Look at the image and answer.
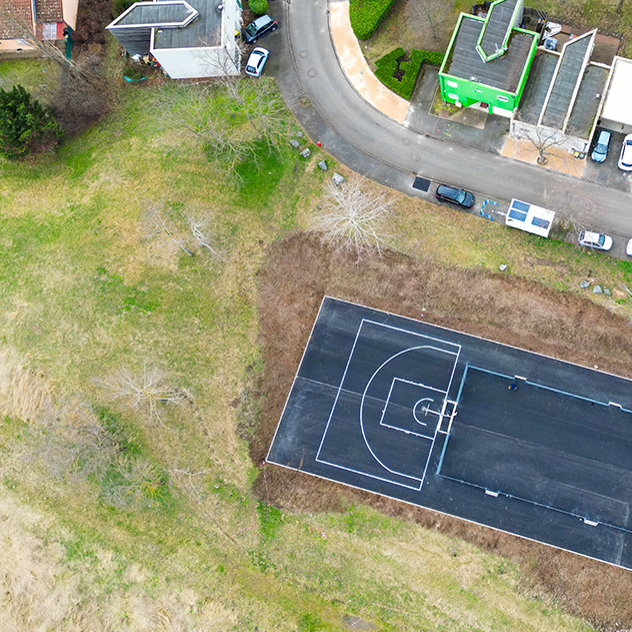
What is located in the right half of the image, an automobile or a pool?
automobile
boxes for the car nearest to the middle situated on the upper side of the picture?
[435,185,475,209]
